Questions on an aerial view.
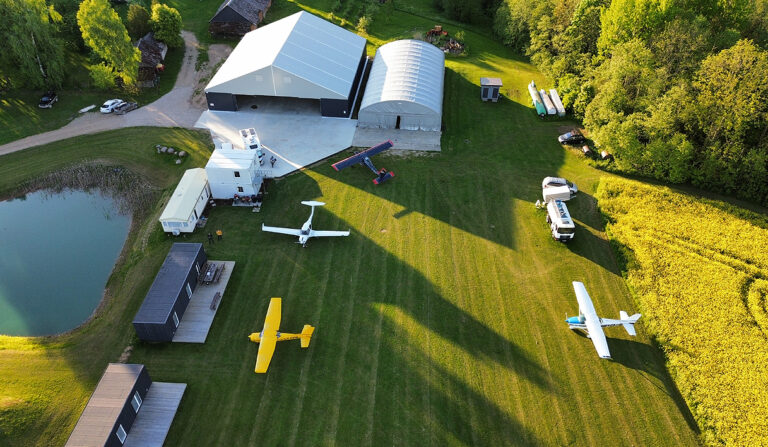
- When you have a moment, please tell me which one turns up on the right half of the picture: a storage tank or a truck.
truck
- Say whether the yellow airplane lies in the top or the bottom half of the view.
bottom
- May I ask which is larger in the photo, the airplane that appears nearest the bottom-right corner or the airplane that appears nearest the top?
the airplane that appears nearest the bottom-right corner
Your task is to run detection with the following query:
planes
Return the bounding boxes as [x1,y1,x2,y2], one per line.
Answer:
[565,283,643,357]
[330,141,397,182]
[262,200,351,245]
[248,298,316,372]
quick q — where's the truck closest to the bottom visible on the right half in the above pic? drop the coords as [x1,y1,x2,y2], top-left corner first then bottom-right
[544,198,578,246]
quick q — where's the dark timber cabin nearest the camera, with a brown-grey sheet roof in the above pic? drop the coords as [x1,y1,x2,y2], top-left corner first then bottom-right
[66,363,184,447]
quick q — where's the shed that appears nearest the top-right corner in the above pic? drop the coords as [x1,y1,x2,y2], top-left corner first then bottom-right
[478,79,502,100]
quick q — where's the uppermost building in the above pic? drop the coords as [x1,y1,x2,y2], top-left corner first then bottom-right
[206,0,272,38]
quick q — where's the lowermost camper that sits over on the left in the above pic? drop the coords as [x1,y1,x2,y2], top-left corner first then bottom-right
[241,129,262,164]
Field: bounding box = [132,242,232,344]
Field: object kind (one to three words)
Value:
building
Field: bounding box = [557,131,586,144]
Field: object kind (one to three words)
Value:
vehicle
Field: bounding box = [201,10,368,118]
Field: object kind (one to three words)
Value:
hangar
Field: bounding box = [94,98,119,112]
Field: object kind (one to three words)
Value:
car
